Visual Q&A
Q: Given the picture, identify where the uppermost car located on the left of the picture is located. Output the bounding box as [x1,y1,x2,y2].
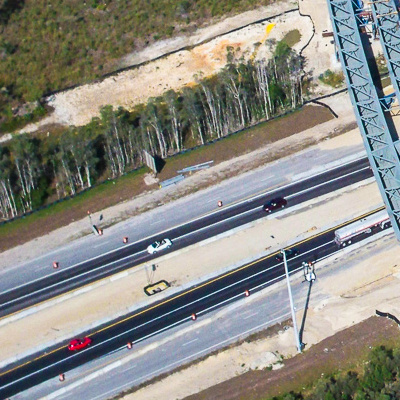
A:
[144,236,170,251]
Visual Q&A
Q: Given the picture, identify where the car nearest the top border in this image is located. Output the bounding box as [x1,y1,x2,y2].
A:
[262,191,286,209]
